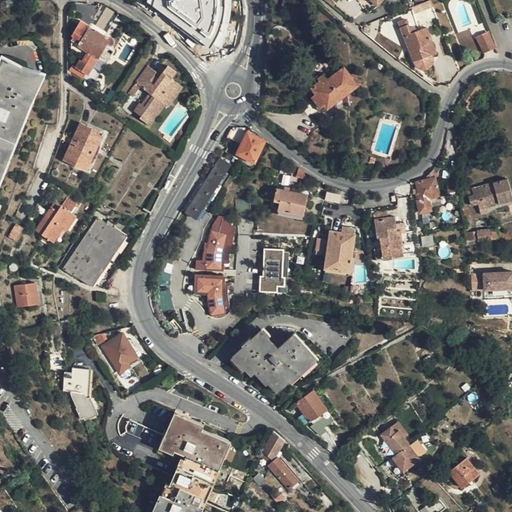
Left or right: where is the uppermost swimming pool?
right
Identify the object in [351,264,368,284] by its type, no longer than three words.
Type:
swimming pool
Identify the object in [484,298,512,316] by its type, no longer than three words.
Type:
swimming pool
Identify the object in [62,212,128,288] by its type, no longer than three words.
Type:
building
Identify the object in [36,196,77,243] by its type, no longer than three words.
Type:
house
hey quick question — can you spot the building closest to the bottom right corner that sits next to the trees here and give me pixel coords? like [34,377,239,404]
[451,458,480,490]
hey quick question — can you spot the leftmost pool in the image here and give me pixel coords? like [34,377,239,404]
[113,34,138,66]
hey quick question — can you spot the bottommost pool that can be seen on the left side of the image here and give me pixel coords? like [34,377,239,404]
[158,102,186,143]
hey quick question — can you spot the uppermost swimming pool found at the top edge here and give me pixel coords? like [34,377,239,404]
[450,0,486,34]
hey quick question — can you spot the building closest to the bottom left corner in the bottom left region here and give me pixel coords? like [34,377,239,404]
[63,368,99,420]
